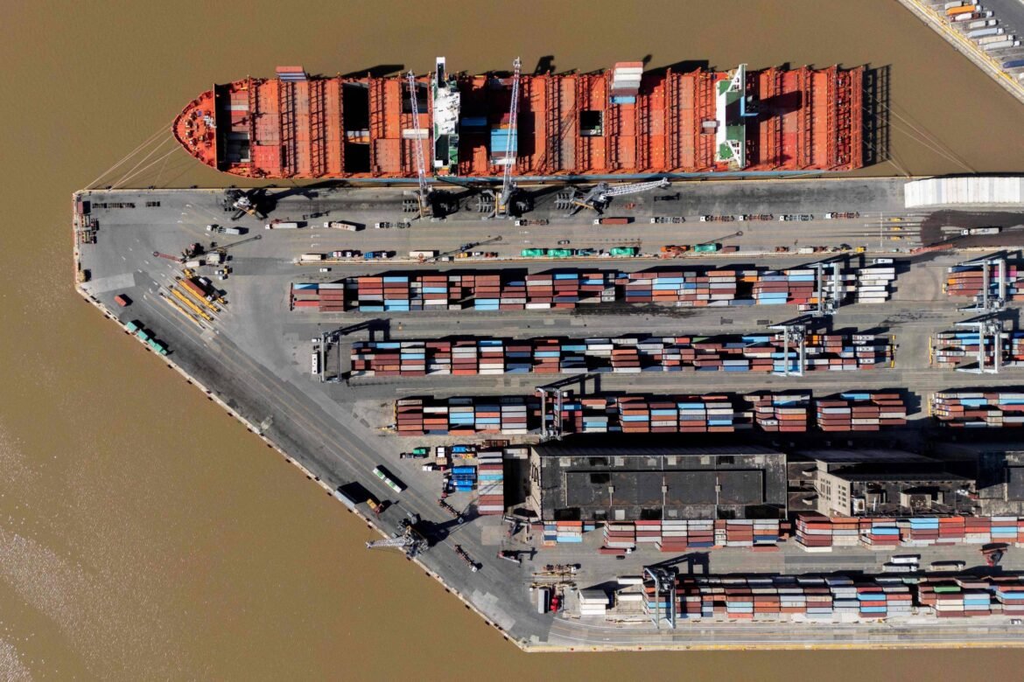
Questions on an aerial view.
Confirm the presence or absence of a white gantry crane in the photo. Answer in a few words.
Yes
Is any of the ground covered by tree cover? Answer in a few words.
No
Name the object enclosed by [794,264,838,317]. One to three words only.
container crane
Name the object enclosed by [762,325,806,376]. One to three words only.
container crane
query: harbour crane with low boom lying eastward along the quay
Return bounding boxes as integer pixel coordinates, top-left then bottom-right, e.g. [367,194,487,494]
[565,181,670,215]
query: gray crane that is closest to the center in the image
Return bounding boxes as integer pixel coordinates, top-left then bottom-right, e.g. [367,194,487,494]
[531,385,563,439]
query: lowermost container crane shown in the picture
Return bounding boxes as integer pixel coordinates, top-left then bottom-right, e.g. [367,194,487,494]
[639,567,677,630]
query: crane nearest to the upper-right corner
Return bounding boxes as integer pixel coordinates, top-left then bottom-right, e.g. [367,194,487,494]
[952,260,1004,314]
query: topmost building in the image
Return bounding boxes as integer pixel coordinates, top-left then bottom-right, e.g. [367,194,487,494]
[907,177,1024,209]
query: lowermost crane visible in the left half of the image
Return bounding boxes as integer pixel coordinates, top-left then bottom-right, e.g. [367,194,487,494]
[363,514,432,557]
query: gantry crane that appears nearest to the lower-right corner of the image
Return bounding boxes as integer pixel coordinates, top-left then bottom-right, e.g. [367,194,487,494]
[947,323,1001,374]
